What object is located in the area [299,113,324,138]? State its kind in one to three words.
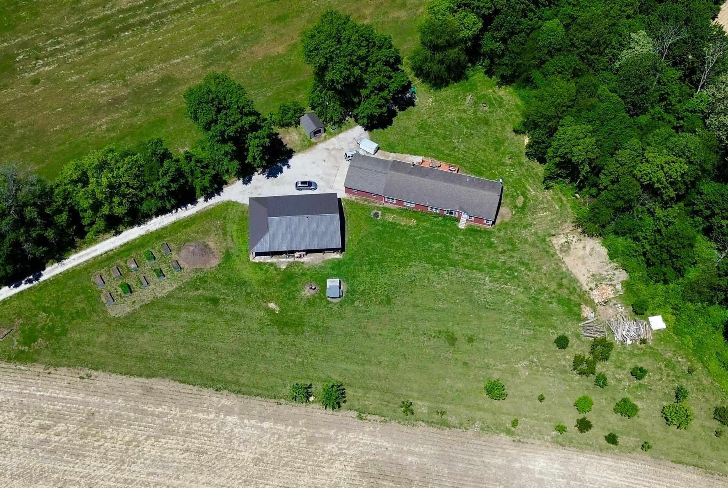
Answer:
shed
